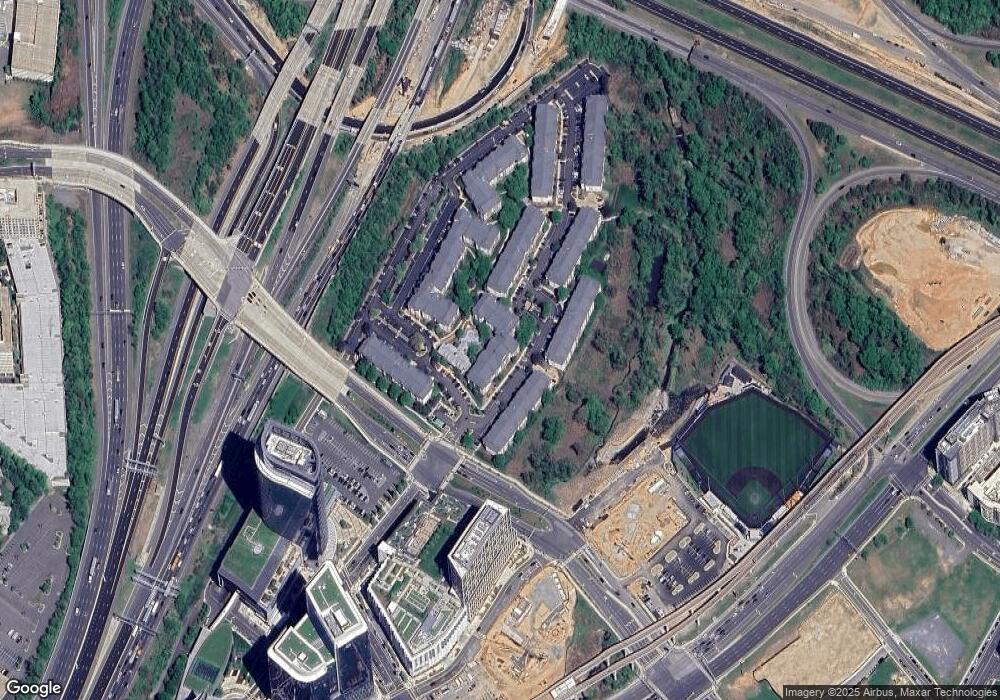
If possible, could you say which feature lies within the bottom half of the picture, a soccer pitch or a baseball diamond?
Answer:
baseball diamond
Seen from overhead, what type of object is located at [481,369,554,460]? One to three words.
building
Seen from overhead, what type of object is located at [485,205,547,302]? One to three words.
building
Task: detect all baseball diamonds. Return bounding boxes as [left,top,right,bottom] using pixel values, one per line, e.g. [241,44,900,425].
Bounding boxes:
[677,386,835,530]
